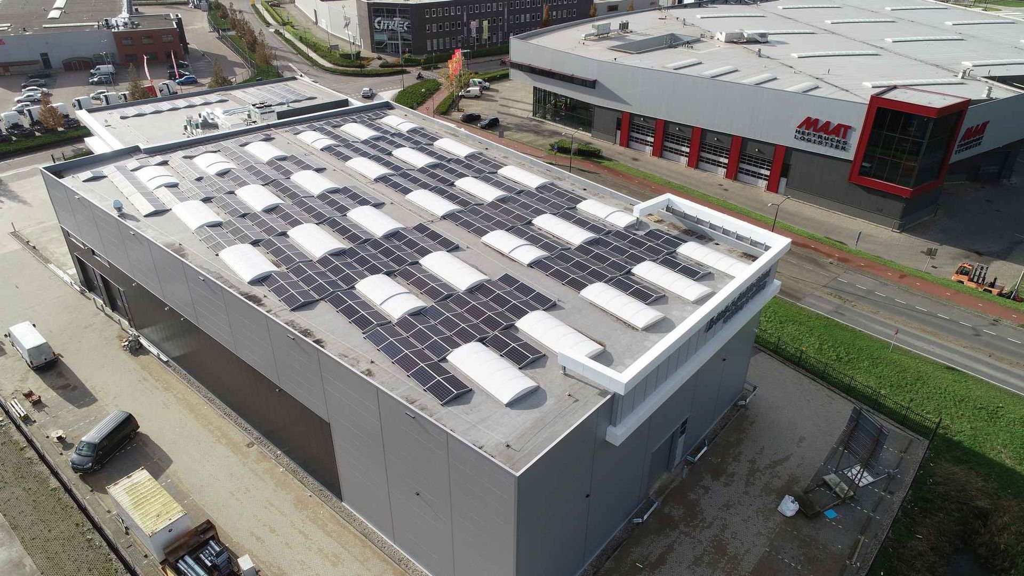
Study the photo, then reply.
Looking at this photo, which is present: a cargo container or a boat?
cargo container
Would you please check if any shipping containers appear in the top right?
No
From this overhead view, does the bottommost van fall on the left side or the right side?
left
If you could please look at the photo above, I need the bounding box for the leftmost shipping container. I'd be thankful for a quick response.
[105,466,193,565]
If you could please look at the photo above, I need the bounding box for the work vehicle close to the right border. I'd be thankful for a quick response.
[954,259,1008,295]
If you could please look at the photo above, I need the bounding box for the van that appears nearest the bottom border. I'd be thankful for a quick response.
[71,406,143,472]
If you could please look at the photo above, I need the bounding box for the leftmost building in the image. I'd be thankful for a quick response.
[0,0,121,80]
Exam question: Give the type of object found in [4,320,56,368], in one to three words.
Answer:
van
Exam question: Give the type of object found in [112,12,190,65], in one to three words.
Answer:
building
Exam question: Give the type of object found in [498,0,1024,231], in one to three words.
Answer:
building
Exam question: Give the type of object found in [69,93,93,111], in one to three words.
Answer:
vehicle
